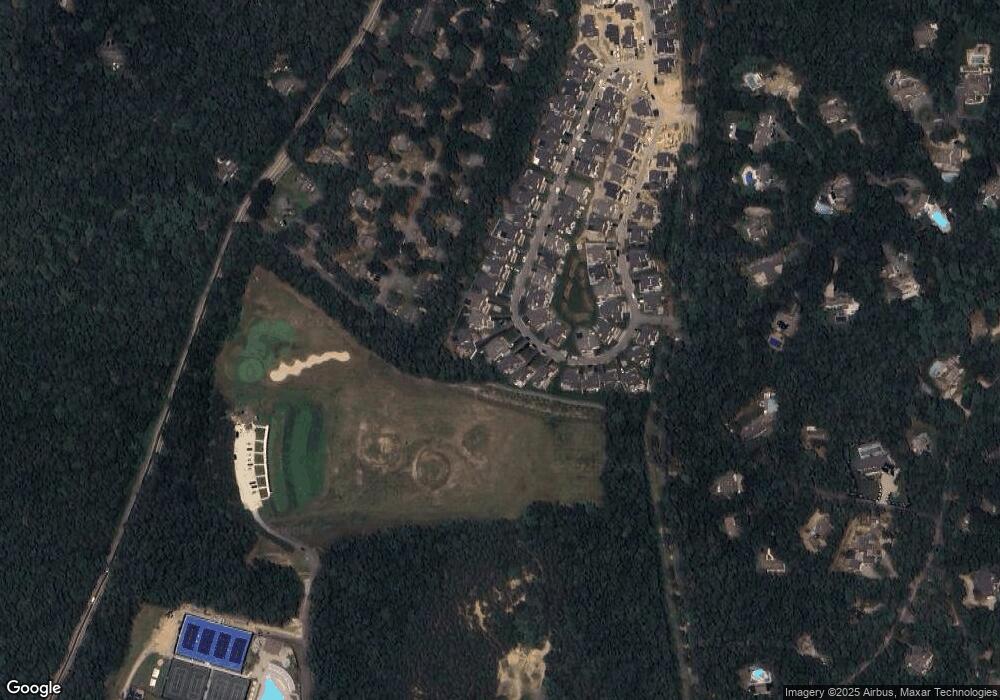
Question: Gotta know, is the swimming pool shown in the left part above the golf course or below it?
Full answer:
In the image, the swimming pool shown in the left part sits below the golf course.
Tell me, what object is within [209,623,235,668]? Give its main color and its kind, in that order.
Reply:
blue tennis court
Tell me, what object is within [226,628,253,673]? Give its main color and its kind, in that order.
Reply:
blue tennis court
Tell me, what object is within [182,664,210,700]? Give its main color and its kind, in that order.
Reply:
gray tennis court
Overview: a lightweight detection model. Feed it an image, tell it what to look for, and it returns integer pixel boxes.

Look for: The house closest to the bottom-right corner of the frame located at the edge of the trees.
[899,641,939,674]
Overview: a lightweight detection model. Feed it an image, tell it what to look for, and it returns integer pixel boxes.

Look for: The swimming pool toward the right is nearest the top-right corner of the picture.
[967,49,988,66]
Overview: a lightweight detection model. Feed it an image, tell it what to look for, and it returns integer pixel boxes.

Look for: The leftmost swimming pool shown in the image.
[248,641,298,700]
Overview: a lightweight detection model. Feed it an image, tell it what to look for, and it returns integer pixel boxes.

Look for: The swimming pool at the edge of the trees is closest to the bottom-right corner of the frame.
[751,666,771,683]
